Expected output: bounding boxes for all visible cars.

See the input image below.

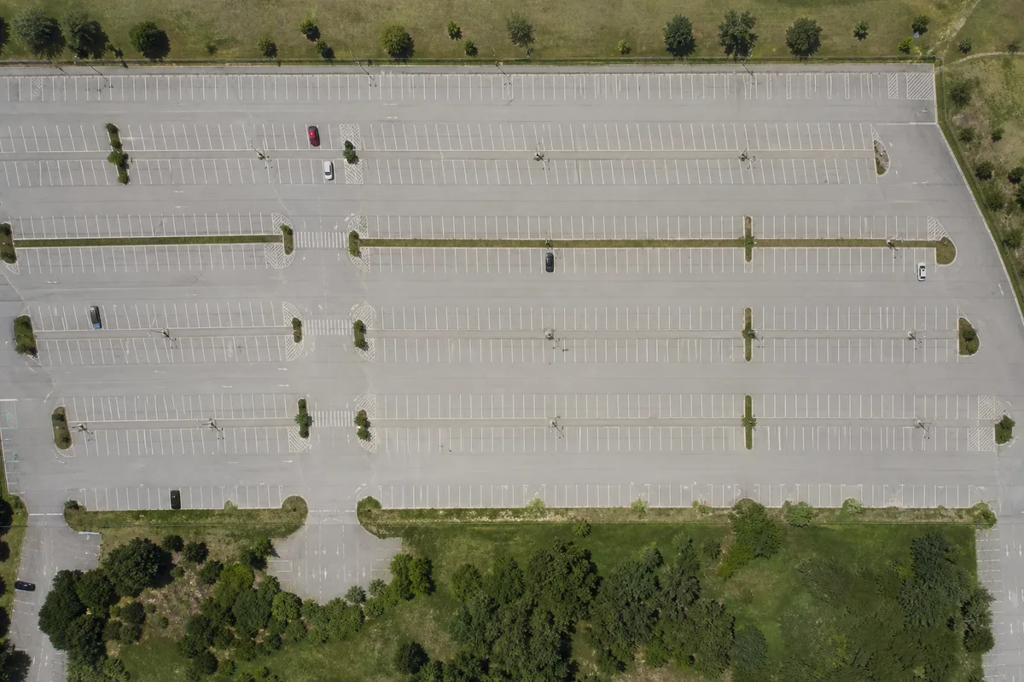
[14,581,34,592]
[168,490,180,510]
[545,251,554,271]
[308,125,318,145]
[918,263,928,281]
[87,306,101,328]
[323,160,333,180]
